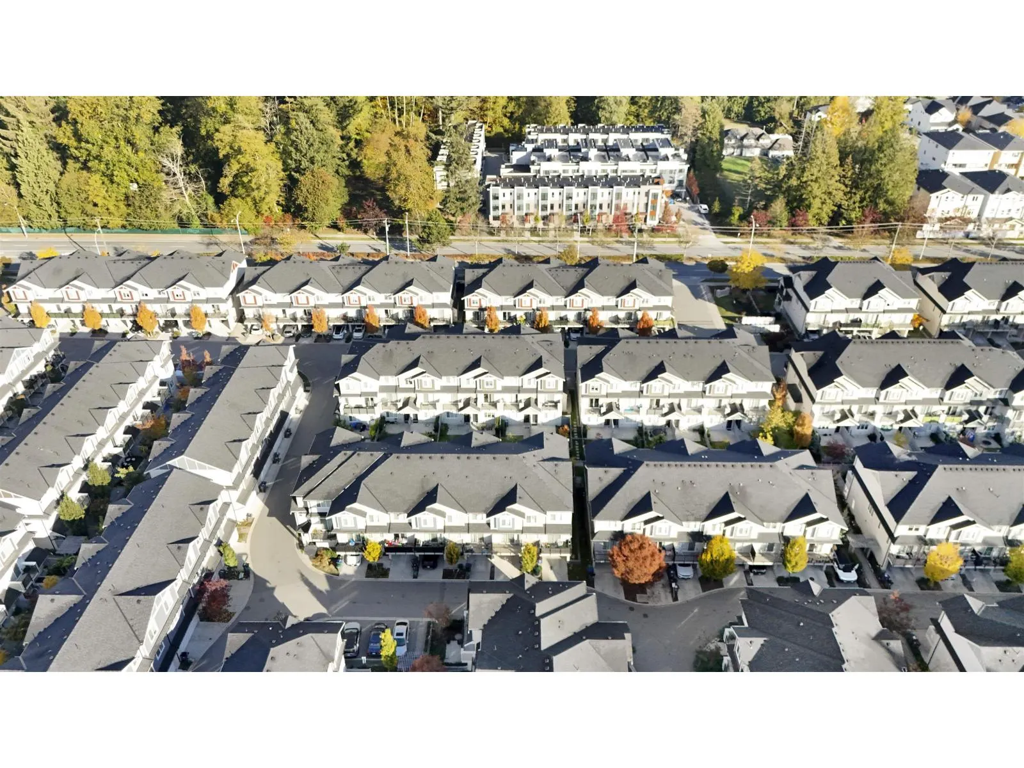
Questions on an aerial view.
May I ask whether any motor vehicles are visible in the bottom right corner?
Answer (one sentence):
Yes, a motor vehicle shows up in the bottom right corner.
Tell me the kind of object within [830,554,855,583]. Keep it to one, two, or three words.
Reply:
car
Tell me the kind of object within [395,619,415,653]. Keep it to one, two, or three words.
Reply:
car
